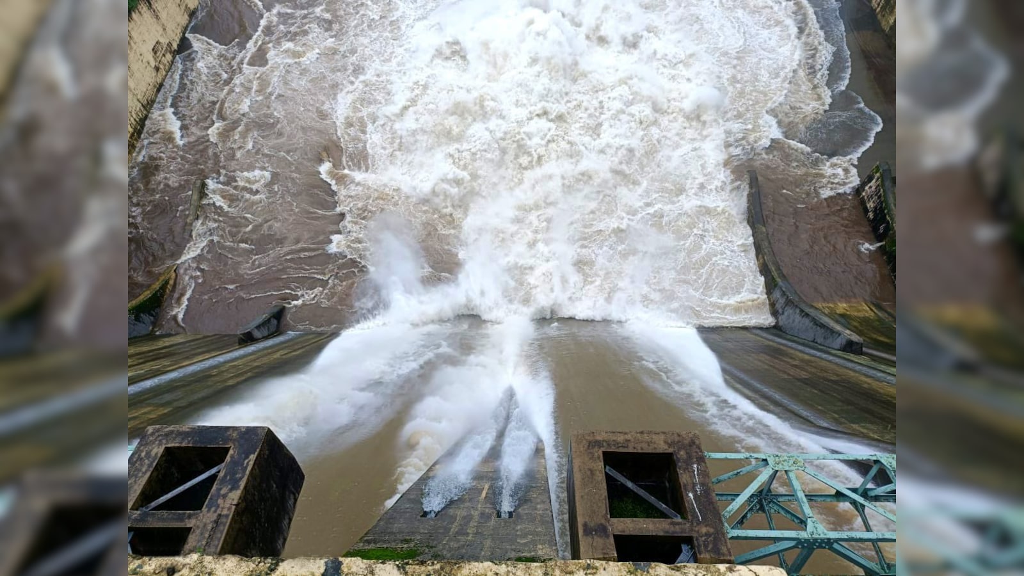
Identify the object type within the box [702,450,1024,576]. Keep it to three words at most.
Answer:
bridge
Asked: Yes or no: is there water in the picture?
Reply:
Yes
